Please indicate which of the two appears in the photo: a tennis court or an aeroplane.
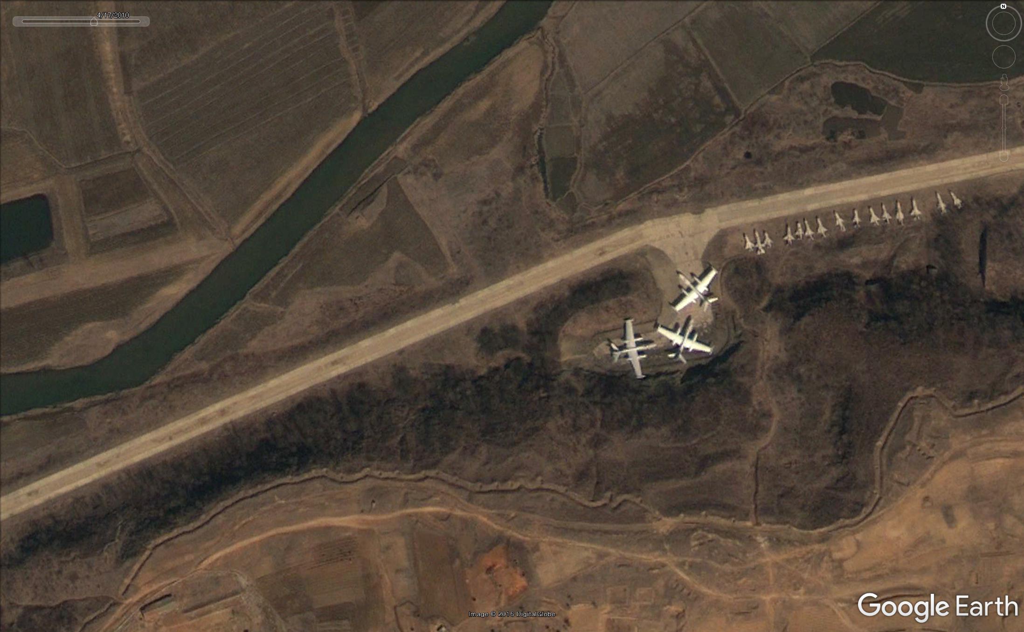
aeroplane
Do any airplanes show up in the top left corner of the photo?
No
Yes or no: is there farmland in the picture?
Yes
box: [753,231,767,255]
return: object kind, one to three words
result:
airplane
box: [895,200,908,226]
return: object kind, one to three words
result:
airplane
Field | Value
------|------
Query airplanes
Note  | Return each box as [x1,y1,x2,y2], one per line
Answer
[835,211,848,232]
[805,219,816,241]
[910,199,923,221]
[895,200,908,226]
[753,231,767,255]
[937,192,948,214]
[655,317,714,364]
[610,318,658,379]
[673,266,721,316]
[870,206,881,226]
[746,235,754,252]
[951,191,962,209]
[785,225,796,246]
[765,232,773,248]
[852,209,862,228]
[882,204,892,224]
[818,218,829,238]
[796,222,805,240]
